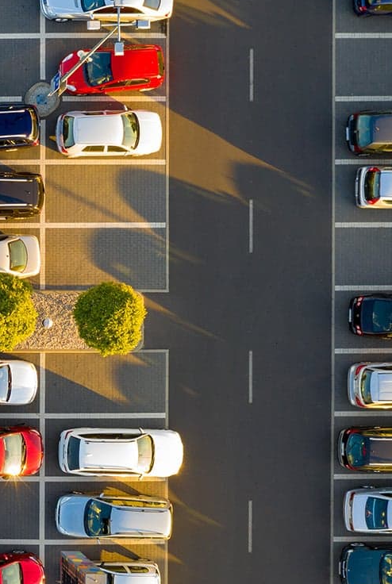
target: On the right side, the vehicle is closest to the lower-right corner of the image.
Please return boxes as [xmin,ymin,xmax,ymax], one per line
[337,540,392,584]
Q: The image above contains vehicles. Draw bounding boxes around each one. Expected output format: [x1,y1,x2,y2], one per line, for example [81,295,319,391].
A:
[57,43,167,97]
[0,238,41,284]
[0,554,44,584]
[336,425,392,472]
[346,362,392,410]
[88,557,162,584]
[0,427,44,480]
[343,484,392,533]
[0,170,46,218]
[58,428,183,479]
[55,492,173,542]
[0,107,41,155]
[0,360,37,409]
[347,294,392,337]
[353,166,392,210]
[55,107,161,159]
[350,0,392,21]
[344,110,392,157]
[337,540,392,584]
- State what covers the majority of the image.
paved ground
